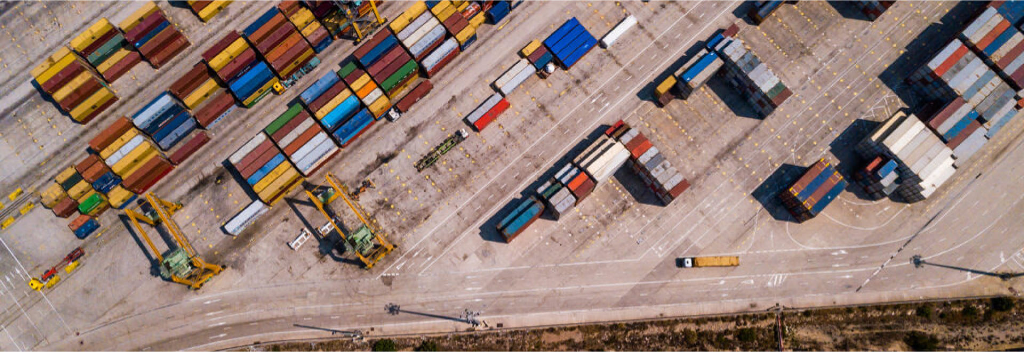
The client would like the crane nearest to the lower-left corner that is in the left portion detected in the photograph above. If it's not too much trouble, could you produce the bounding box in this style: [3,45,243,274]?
[123,190,230,293]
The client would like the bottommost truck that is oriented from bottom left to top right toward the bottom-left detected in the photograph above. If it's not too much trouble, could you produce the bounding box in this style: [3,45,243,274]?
[26,247,83,292]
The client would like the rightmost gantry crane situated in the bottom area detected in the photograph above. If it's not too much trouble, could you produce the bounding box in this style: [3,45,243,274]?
[305,171,401,273]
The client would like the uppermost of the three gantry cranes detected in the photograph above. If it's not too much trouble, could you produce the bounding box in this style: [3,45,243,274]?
[332,0,389,46]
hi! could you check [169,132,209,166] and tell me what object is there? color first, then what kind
red shipping container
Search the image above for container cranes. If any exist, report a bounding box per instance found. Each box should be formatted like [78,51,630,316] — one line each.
[123,190,230,293]
[305,171,401,273]
[332,0,389,46]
